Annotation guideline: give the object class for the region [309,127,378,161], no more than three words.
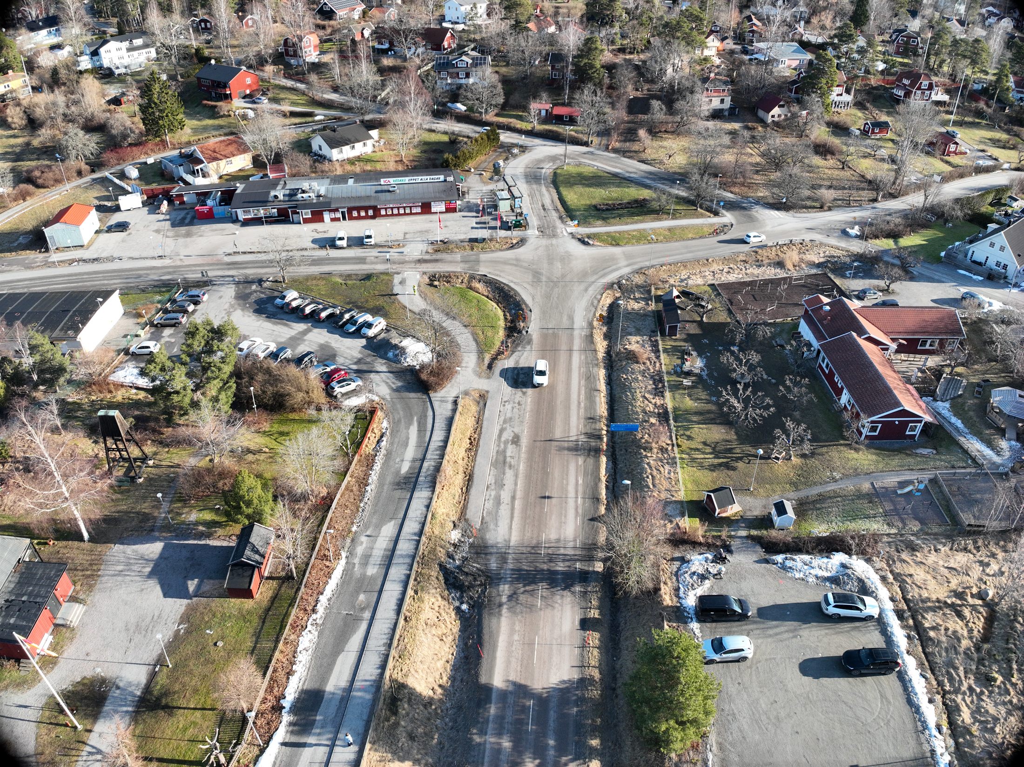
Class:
house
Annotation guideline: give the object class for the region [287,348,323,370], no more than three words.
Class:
car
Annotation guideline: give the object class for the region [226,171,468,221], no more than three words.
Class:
building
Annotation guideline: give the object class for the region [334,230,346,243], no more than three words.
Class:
vehicle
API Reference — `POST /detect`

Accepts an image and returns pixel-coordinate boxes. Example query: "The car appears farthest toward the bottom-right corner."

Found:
[840,646,909,677]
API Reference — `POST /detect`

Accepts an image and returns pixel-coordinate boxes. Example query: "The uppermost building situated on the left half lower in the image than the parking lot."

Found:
[96,407,157,483]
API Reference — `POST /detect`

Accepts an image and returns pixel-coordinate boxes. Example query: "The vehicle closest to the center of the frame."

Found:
[531,356,549,385]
